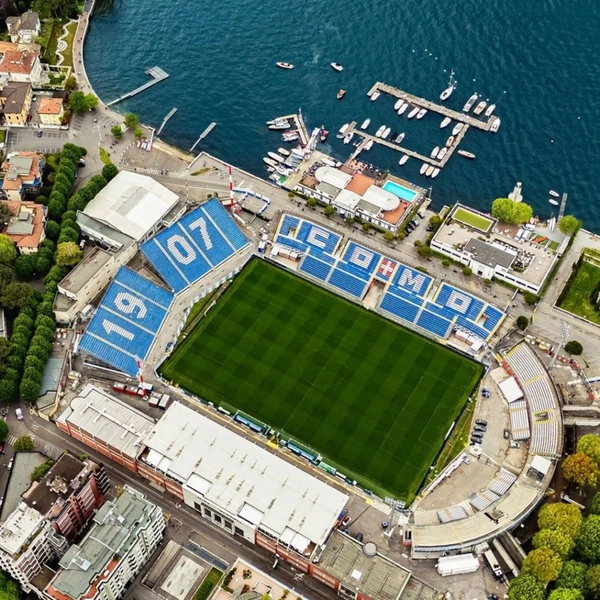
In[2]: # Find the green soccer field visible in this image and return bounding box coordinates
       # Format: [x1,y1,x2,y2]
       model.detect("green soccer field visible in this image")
[156,255,487,506]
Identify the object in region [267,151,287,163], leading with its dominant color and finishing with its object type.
white boat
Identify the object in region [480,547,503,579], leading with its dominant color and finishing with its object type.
white truck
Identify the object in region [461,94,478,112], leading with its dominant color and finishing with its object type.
white boat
